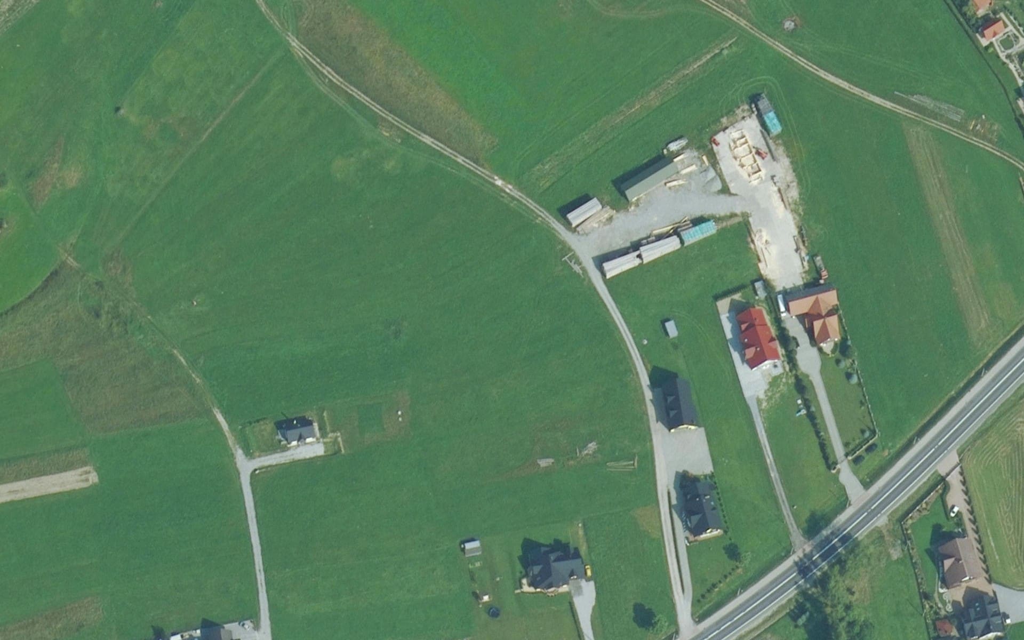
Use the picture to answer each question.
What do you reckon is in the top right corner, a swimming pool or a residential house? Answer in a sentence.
It is a residential house that can be seen in the top right corner.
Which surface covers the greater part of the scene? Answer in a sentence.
What you mostly see from above here is grass.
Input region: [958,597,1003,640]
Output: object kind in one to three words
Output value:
house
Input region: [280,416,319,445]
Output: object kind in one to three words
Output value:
house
